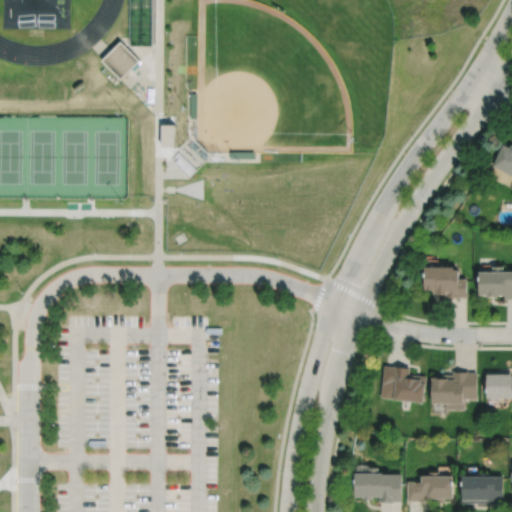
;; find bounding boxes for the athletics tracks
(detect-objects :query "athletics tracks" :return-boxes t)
[0,0,123,66]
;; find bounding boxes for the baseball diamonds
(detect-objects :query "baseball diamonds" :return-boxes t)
[198,0,354,153]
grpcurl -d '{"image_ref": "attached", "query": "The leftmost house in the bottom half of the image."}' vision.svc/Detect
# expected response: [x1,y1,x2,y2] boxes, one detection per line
[353,474,403,503]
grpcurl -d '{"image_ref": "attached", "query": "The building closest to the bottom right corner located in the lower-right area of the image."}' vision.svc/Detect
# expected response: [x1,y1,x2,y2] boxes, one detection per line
[460,478,504,506]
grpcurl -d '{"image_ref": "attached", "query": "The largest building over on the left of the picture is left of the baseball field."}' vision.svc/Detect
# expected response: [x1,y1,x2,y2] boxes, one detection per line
[102,42,139,80]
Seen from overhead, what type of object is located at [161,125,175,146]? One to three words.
shed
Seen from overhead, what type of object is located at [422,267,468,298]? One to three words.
house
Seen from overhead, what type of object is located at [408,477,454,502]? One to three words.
house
